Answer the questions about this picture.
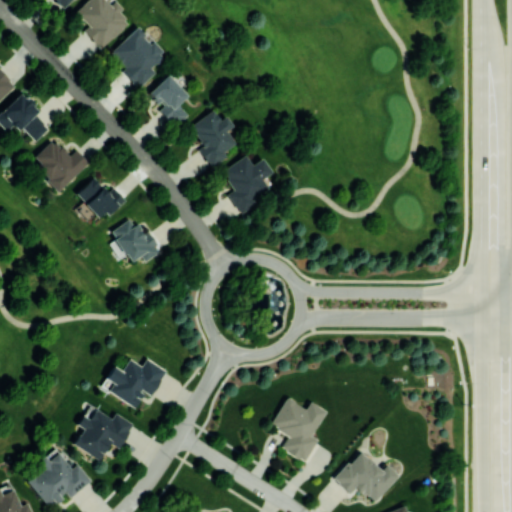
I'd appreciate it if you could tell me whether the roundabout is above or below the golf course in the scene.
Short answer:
below it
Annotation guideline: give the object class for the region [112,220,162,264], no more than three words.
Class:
house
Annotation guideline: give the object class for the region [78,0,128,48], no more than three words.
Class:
house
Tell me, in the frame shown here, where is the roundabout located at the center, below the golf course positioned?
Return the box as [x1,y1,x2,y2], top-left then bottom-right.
[200,246,309,366]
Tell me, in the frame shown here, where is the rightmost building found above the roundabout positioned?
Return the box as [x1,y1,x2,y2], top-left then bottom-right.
[226,156,274,215]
